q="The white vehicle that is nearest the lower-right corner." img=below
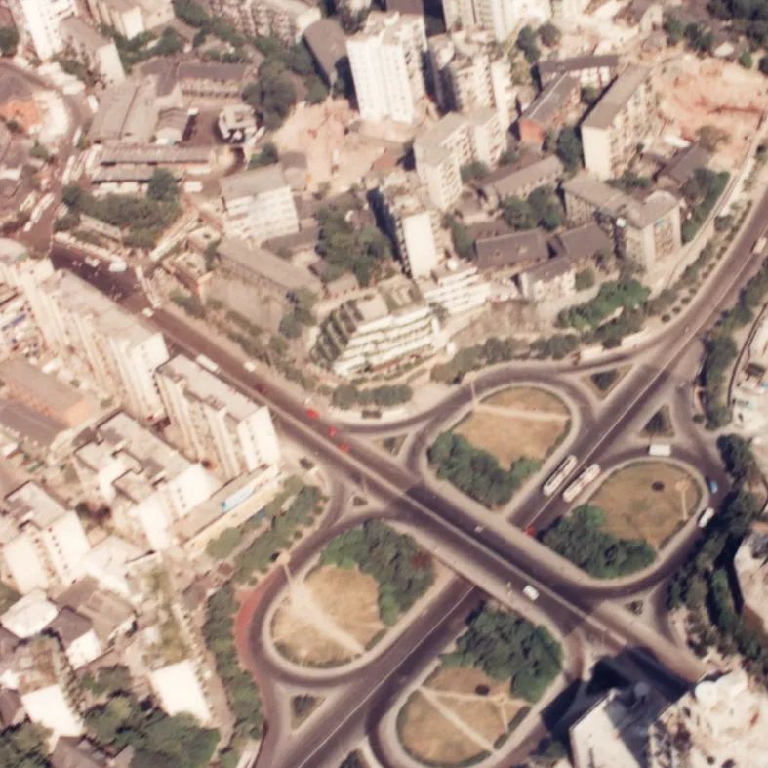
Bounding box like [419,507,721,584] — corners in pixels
[697,502,718,527]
